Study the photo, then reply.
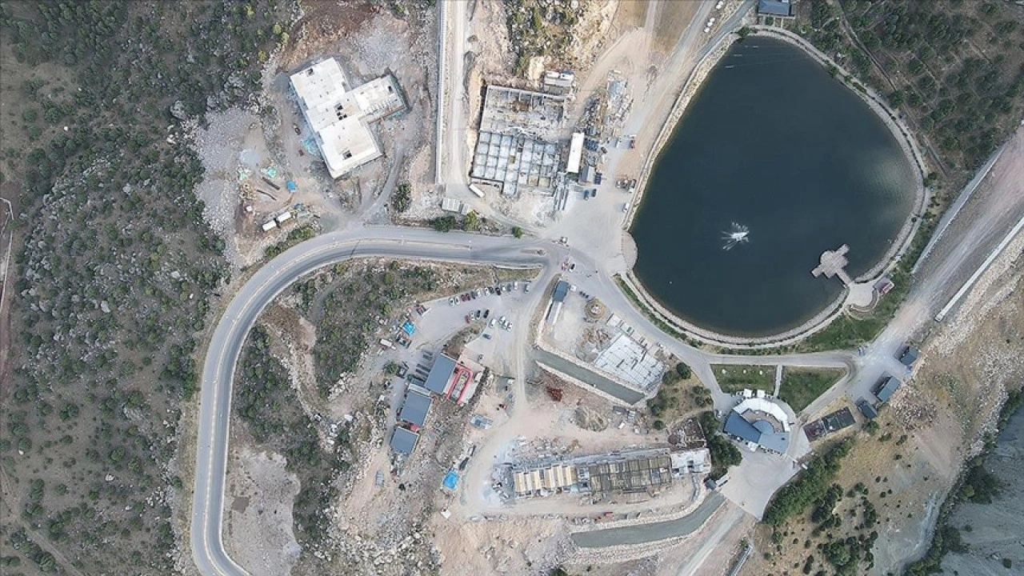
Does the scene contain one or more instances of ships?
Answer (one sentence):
No, there isn't any ship down there.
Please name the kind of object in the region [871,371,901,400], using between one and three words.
building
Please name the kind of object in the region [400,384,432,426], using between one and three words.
house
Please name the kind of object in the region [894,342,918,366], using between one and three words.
building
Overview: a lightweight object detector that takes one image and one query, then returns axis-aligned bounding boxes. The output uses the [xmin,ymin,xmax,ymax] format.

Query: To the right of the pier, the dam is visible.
[914,134,1024,324]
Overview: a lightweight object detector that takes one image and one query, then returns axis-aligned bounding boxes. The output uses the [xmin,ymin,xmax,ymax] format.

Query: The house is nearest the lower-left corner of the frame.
[389,427,419,454]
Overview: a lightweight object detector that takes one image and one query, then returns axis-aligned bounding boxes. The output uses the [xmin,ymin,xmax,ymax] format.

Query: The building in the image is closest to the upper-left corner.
[290,58,409,178]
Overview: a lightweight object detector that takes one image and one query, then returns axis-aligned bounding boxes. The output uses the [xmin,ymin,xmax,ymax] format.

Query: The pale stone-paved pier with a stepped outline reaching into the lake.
[811,244,853,287]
